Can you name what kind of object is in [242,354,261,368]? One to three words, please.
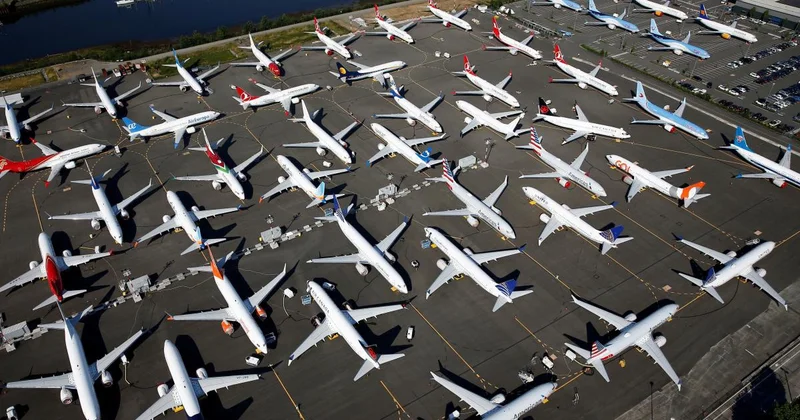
vehicle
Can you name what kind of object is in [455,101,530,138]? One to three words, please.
airplane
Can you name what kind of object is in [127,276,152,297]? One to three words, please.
shed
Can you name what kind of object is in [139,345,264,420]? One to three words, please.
airplane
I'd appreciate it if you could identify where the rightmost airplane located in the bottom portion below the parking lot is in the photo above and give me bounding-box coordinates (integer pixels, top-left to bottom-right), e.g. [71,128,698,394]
[679,233,792,307]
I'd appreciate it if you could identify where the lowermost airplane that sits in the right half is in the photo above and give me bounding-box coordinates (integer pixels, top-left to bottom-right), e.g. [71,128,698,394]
[428,369,556,420]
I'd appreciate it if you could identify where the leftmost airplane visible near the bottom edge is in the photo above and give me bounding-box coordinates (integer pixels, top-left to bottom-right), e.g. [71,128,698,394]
[0,301,148,420]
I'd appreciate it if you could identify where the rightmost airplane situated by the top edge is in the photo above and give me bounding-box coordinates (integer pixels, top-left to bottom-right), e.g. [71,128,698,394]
[691,5,756,44]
